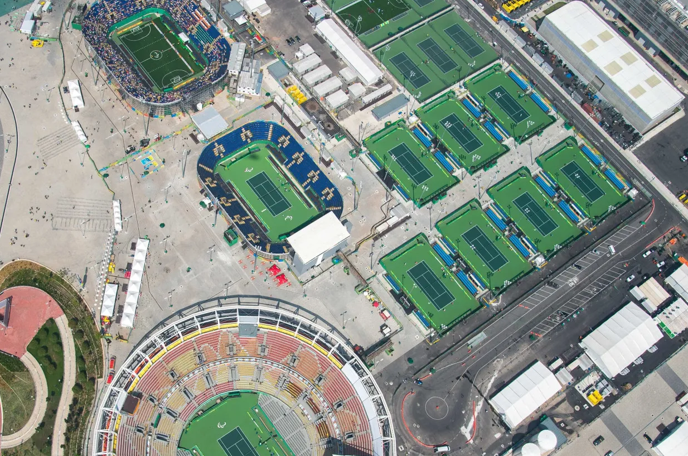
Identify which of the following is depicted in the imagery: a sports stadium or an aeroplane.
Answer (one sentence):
Visible in the photo is a sports stadium.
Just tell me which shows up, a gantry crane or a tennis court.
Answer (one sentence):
There is a tennis court in the scene.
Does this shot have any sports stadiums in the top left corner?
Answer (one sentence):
Yes, in the top left corner there is a sports stadium.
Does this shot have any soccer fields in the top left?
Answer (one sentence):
Yes, a soccer field shows up in the top left.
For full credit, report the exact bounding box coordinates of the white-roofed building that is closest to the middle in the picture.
[284,212,350,274]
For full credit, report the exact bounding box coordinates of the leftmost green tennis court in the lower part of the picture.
[381,234,484,337]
